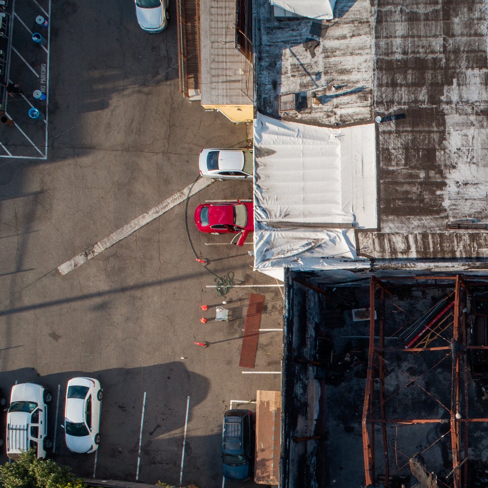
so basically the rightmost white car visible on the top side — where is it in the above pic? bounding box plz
[197,147,254,183]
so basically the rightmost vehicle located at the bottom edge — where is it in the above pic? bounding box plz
[220,411,256,483]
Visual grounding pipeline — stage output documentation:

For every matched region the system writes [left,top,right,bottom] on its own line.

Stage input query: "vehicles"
[6,383,53,459]
[63,380,105,453]
[133,0,172,37]
[220,411,256,483]
[195,201,258,246]
[197,147,254,183]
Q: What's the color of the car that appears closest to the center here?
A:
red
